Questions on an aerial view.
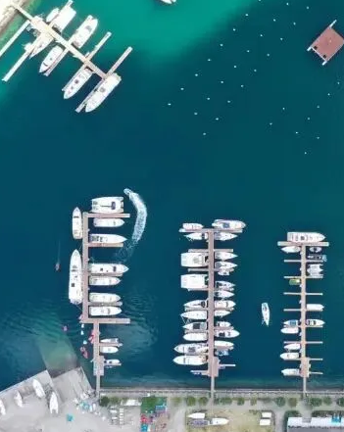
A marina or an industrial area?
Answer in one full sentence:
This looks like a marina.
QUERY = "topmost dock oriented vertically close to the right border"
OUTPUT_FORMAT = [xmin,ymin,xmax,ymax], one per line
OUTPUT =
[277,242,330,391]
